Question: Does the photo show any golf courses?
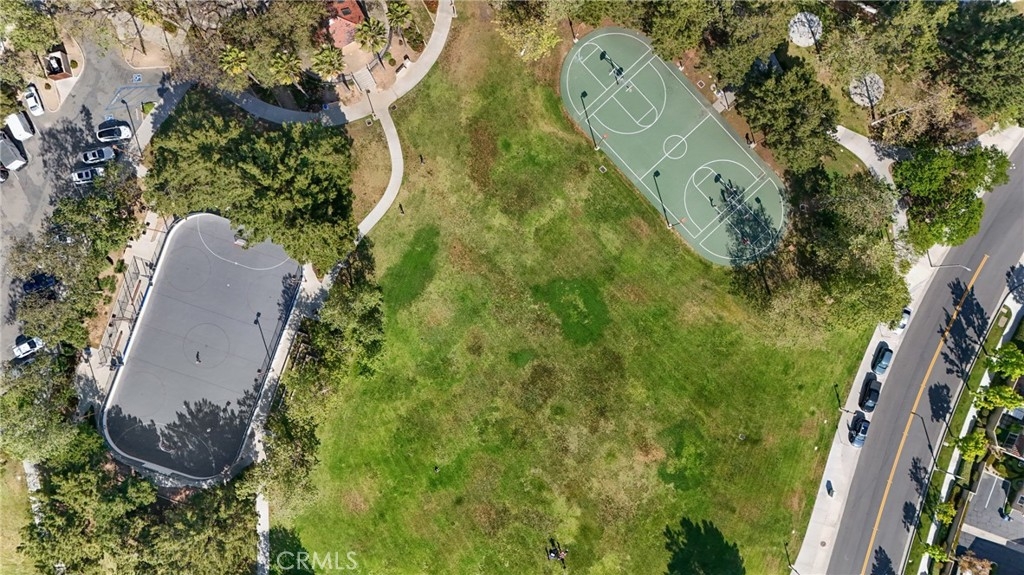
No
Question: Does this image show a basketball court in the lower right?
No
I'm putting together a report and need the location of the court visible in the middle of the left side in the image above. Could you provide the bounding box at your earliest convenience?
[101,209,307,484]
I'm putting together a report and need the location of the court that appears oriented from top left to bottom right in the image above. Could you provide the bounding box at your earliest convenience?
[559,25,791,268]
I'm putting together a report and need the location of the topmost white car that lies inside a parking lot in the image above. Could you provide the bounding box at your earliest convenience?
[22,84,44,115]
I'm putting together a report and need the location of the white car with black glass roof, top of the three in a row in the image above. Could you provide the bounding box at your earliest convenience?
[99,123,132,139]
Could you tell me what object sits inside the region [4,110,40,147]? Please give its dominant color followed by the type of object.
white van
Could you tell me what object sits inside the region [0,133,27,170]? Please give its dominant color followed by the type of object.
gray vehicle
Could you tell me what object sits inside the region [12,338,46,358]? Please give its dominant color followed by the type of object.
white car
